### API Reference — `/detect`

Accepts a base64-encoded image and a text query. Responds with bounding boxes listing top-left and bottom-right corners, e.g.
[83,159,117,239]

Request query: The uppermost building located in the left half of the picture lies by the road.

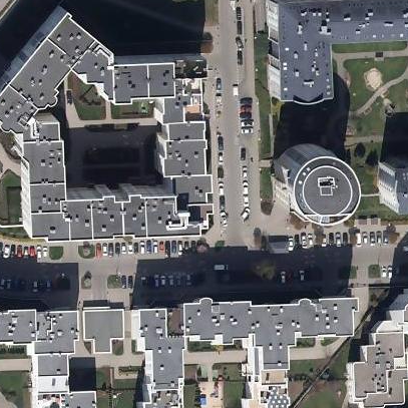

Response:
[0,8,214,242]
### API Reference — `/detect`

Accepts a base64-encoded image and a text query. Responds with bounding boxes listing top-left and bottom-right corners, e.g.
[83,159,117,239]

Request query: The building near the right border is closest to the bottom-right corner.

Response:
[340,323,408,407]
